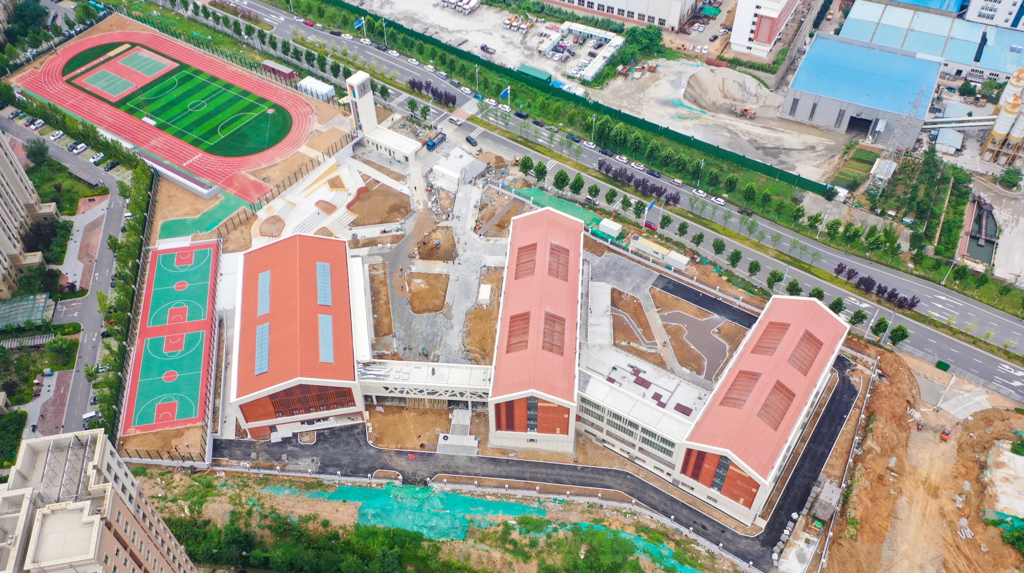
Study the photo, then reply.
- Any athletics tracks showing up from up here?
Yes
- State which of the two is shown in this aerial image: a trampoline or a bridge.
bridge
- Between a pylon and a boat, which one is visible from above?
pylon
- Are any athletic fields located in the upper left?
Yes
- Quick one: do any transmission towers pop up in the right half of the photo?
Yes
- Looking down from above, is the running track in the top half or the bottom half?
top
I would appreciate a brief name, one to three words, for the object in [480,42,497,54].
vehicle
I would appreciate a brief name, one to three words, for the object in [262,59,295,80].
building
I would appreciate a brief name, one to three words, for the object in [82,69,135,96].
sports court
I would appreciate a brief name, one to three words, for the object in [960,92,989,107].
work vehicle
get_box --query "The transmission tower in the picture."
[853,83,931,206]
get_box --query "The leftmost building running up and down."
[0,133,56,302]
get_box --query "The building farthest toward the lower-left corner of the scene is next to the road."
[0,429,185,573]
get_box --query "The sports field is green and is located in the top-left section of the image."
[62,41,292,156]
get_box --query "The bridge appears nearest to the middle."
[360,358,491,412]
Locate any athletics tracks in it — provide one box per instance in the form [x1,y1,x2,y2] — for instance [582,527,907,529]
[10,31,316,203]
